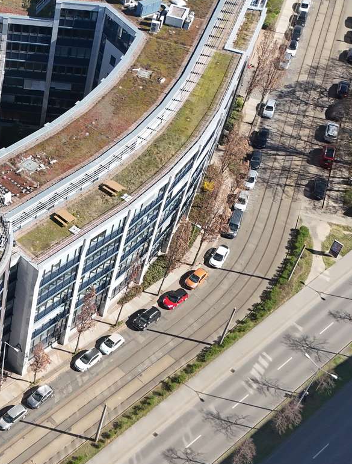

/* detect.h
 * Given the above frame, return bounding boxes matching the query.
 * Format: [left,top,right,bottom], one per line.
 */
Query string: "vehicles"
[184,266,210,291]
[208,243,232,270]
[131,304,164,331]
[322,143,338,164]
[234,189,252,212]
[225,209,245,235]
[324,122,341,142]
[294,8,308,25]
[253,126,270,149]
[244,169,261,191]
[98,331,126,357]
[23,383,55,411]
[335,81,351,99]
[0,402,30,434]
[299,0,311,11]
[262,98,278,119]
[291,23,305,39]
[71,347,103,374]
[161,287,186,312]
[344,48,352,63]
[313,177,331,200]
[248,150,264,171]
